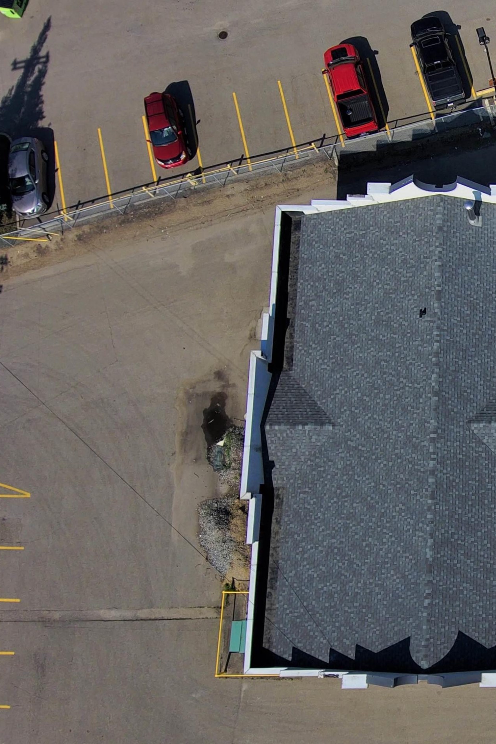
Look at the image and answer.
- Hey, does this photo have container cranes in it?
No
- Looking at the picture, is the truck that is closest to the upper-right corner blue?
No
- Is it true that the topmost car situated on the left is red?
Yes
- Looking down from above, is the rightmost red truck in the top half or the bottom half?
top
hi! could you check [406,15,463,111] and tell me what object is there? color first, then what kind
black truck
